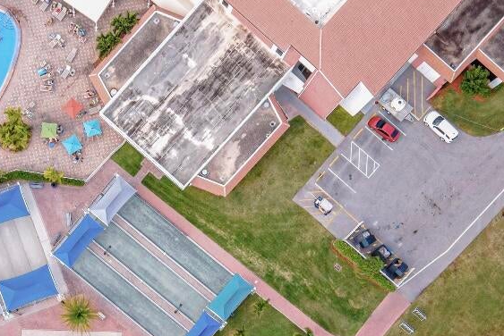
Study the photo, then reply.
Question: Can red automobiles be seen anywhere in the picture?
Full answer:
Yes, looking at the shot, I can spot a red automobile.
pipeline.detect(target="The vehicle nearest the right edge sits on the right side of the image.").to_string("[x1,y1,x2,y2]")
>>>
[421,111,459,142]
